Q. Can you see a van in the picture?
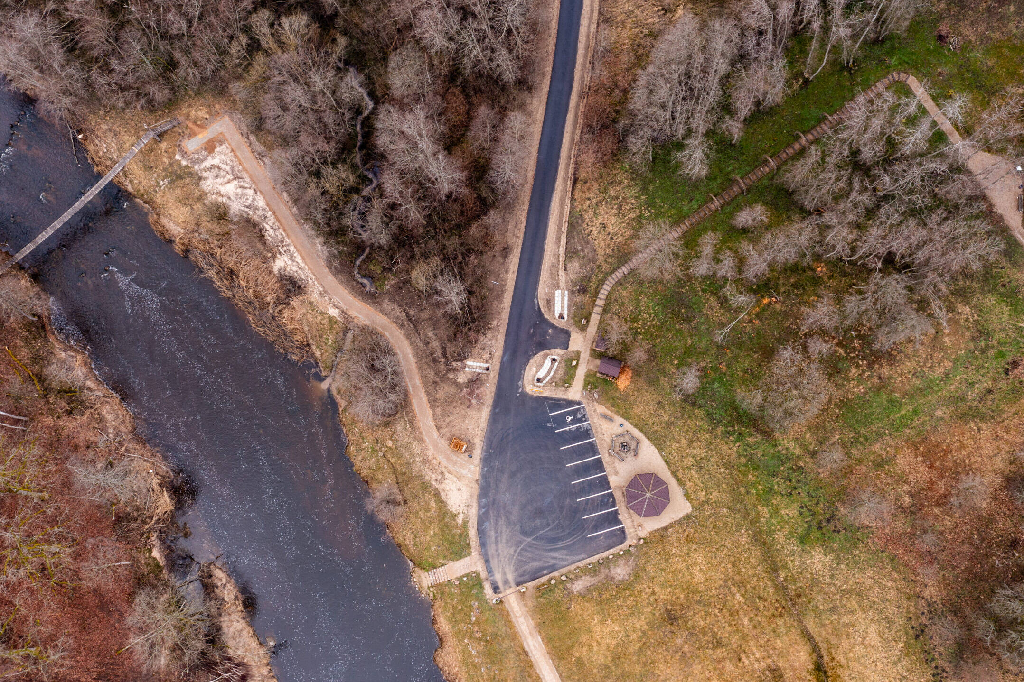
No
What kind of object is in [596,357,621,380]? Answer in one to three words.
shed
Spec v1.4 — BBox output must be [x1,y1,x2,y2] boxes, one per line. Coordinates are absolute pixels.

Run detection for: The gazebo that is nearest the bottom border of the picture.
[626,473,670,518]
